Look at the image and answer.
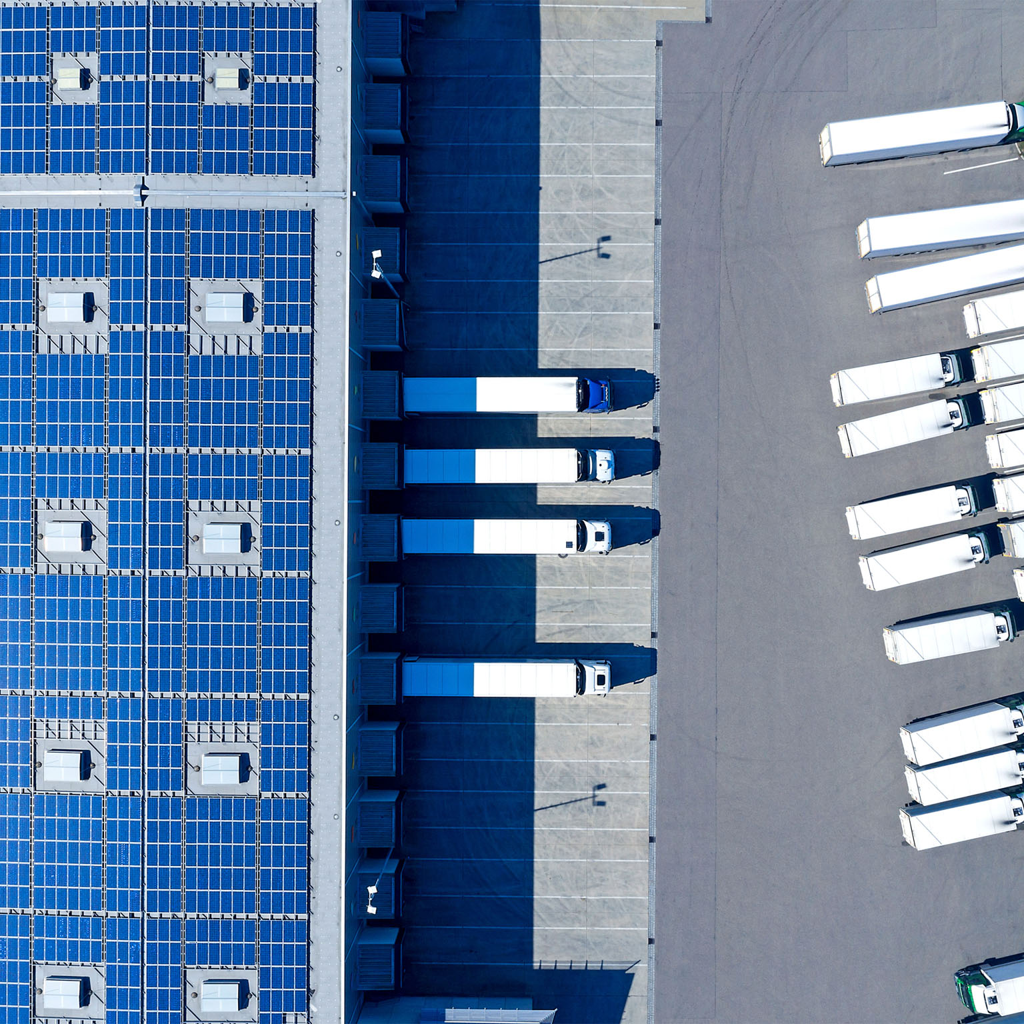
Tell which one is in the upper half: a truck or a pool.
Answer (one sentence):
It is a truck that can be seen in the upper half.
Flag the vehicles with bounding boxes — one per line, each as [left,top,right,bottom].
[896,783,1024,850]
[983,428,1024,468]
[897,696,1024,766]
[403,516,613,556]
[827,348,962,407]
[856,525,992,591]
[401,657,612,698]
[903,741,1024,806]
[979,381,1024,422]
[991,473,1024,511]
[971,337,1024,381]
[880,604,1015,665]
[404,375,613,416]
[843,479,978,539]
[960,292,1024,338]
[962,1010,1024,1024]
[865,243,1024,313]
[856,198,1024,258]
[818,100,1024,166]
[835,392,970,458]
[956,961,1024,1017]
[403,446,613,487]
[996,518,1024,557]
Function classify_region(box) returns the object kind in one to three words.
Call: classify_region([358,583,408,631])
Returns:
house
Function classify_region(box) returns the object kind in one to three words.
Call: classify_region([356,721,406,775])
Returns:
house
